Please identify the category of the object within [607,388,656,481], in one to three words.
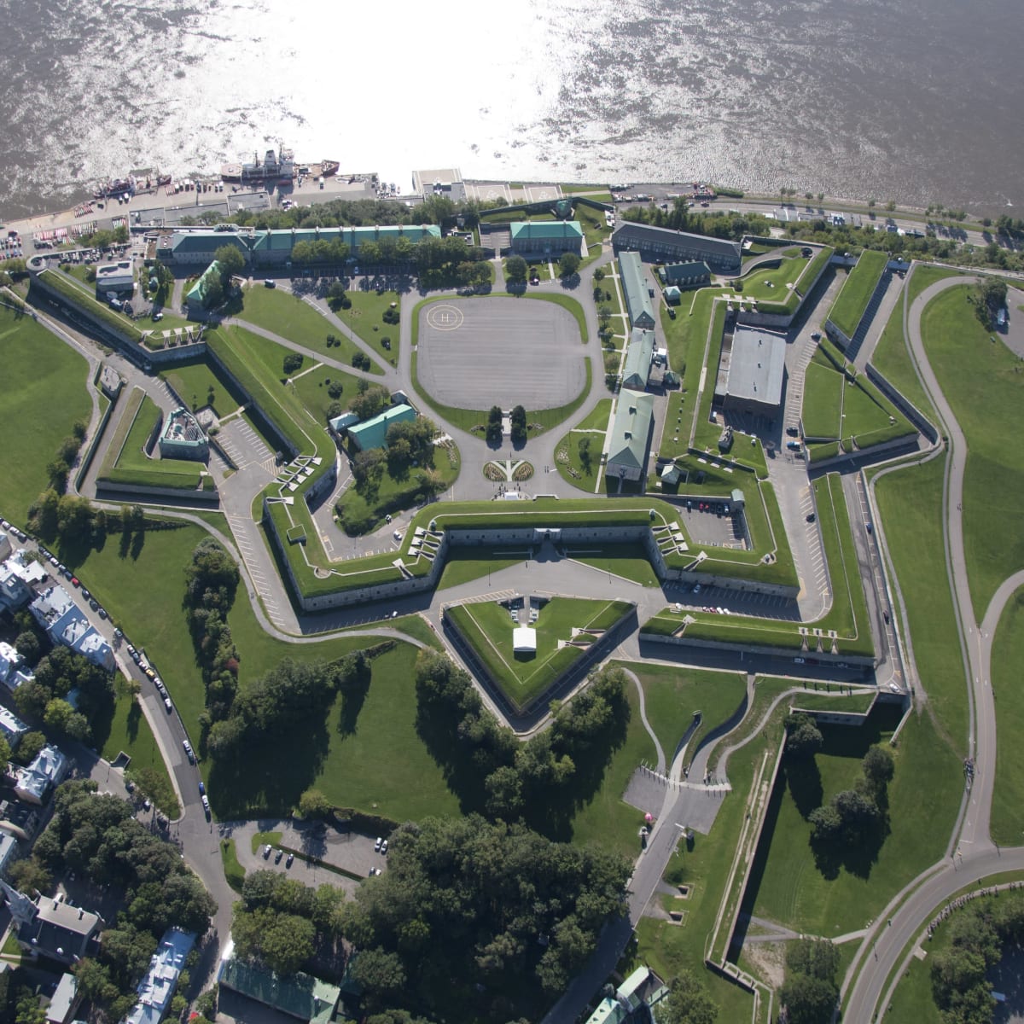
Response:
house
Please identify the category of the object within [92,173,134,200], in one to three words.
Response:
vessel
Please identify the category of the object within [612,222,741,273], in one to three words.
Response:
building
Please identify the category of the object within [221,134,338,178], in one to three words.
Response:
ship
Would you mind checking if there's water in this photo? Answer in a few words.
Yes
